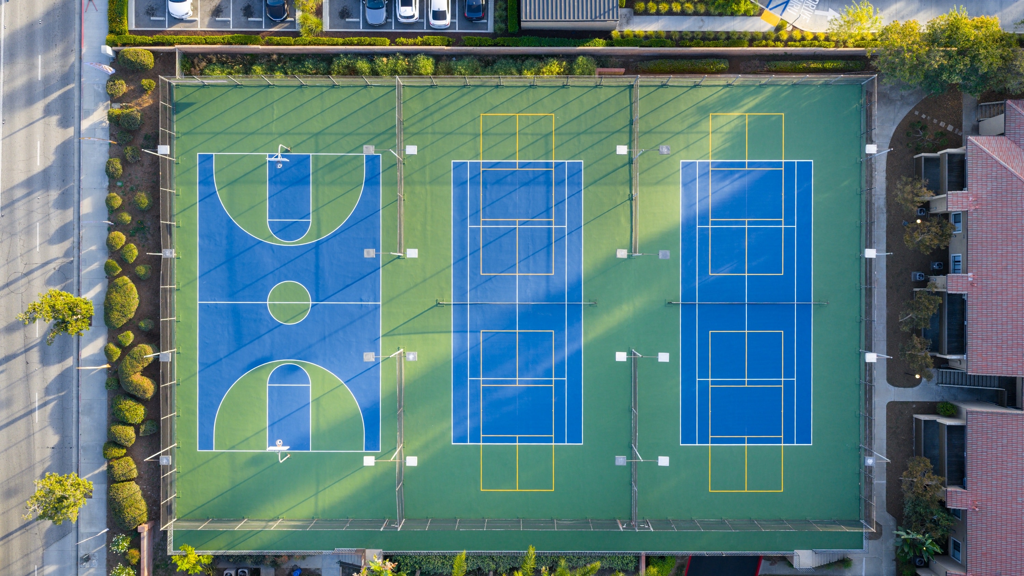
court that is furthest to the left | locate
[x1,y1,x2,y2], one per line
[197,153,381,452]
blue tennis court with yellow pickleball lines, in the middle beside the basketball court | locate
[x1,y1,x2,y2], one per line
[452,114,583,491]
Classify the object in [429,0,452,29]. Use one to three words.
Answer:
car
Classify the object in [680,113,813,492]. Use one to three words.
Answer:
tennis court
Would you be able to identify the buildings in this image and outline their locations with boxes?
[522,0,622,28]
[902,401,1024,576]
[913,98,1024,378]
